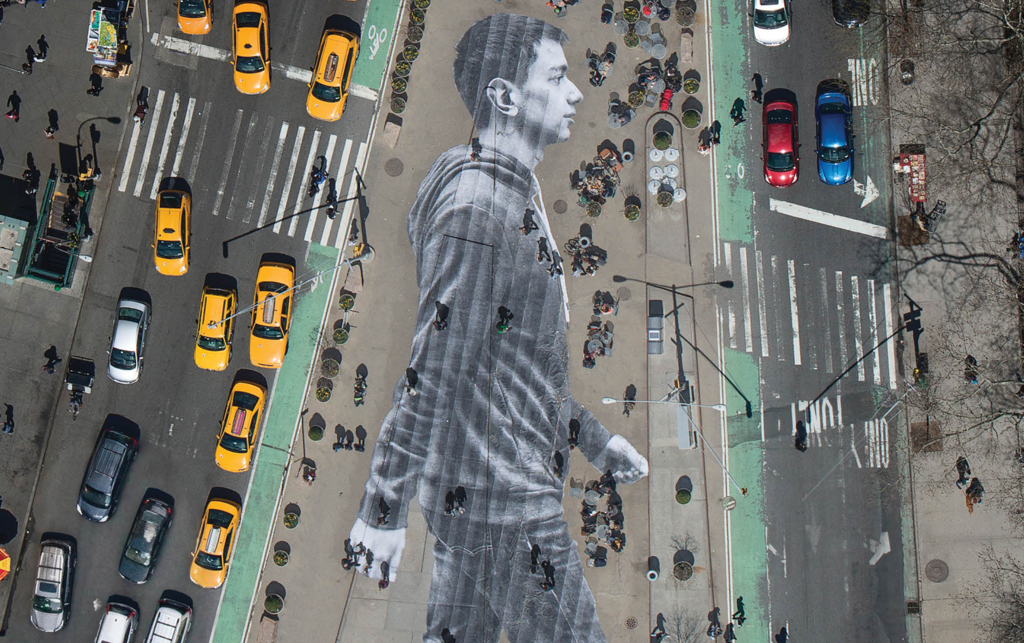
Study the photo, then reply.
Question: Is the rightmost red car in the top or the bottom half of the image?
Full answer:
The rightmost red car sits in the top half of the picture.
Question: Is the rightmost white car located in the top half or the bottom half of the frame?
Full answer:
The rightmost white car is in the top half of the image.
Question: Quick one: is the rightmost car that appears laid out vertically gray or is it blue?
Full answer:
The color of the rightmost car that appears laid out vertically is blue.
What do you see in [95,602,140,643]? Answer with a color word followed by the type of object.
white car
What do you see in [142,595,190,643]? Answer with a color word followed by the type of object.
white car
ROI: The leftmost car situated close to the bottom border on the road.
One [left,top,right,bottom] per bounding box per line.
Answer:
[26,540,79,633]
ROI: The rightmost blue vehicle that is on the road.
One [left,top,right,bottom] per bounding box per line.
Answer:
[812,92,856,185]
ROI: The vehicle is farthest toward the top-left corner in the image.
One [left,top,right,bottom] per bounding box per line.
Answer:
[171,0,215,34]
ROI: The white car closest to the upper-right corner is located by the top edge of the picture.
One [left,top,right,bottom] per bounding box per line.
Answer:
[748,0,791,45]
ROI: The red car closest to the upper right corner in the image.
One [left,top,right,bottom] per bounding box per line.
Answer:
[758,101,801,187]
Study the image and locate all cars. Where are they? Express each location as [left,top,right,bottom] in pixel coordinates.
[26,540,79,633]
[104,296,153,384]
[189,284,239,371]
[306,26,360,121]
[187,497,242,590]
[142,595,190,643]
[245,263,297,368]
[119,496,175,586]
[229,2,272,94]
[171,0,215,34]
[758,101,801,187]
[214,378,270,474]
[748,0,791,45]
[75,423,142,525]
[829,0,873,27]
[95,602,140,643]
[812,92,856,185]
[149,190,194,275]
